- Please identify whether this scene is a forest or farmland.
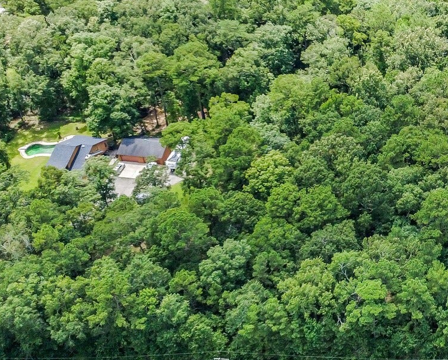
forest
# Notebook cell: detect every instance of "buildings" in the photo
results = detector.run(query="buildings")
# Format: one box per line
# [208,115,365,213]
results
[116,135,170,163]
[43,137,108,172]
